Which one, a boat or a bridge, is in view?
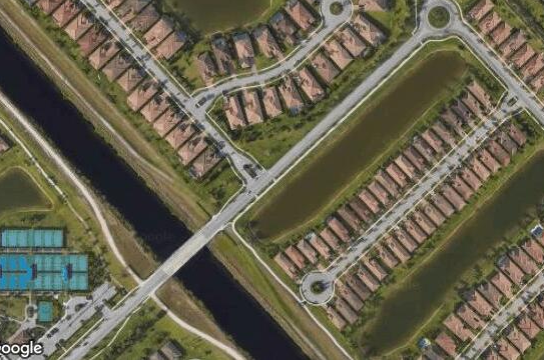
bridge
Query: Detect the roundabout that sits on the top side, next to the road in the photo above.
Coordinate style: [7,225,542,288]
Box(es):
[418,0,458,37]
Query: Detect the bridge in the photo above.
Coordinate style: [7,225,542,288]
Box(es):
[156,221,216,278]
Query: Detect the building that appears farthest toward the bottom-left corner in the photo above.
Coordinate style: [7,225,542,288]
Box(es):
[4,321,34,351]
